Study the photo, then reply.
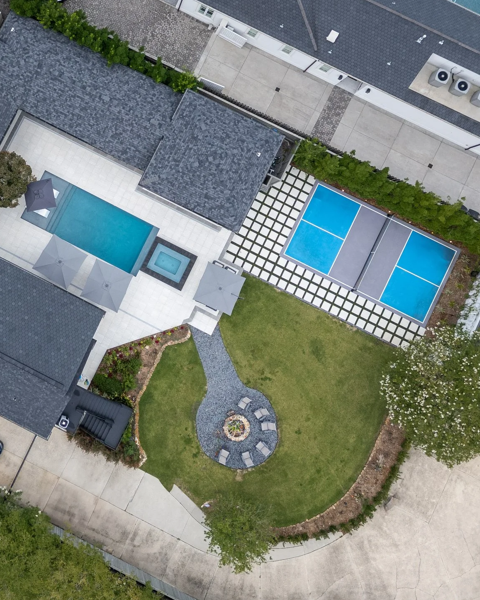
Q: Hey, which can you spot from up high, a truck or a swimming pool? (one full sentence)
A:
I can see a swimming pool in this picture.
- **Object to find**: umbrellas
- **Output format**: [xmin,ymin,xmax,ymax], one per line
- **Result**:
[26,178,57,213]
[81,259,134,312]
[32,234,87,290]
[193,261,246,315]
